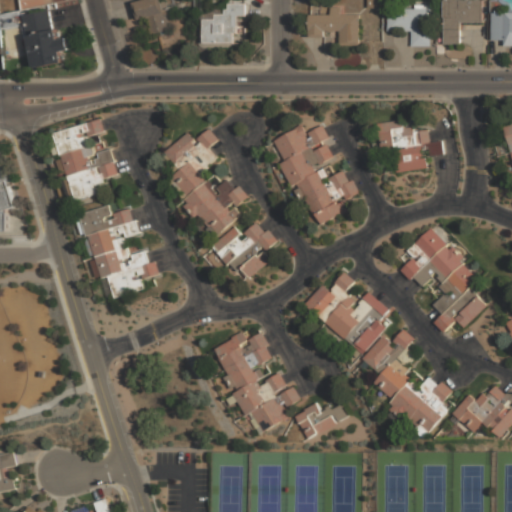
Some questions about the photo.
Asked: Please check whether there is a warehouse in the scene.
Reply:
No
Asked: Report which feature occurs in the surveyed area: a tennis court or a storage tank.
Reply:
tennis court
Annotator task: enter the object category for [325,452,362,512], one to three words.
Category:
tennis court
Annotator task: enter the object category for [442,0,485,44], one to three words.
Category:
house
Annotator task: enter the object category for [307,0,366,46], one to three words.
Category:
house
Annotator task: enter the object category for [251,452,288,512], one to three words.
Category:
tennis court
